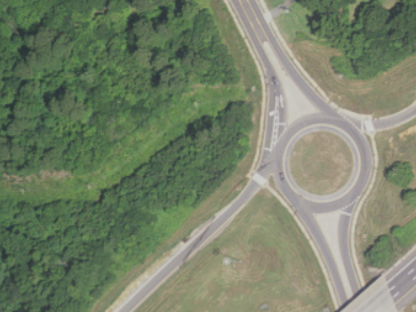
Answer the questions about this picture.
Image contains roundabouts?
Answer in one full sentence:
Yes, you can see a roundabout in this photo.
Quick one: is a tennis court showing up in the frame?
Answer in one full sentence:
No, no tennis court is visible in the scene.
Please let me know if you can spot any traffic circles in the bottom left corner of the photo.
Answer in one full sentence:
No, in the bottom left corner of the photo there is no traffic circle.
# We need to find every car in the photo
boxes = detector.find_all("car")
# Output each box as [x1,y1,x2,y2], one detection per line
[278,172,284,182]
[277,6,286,10]
[271,76,277,86]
